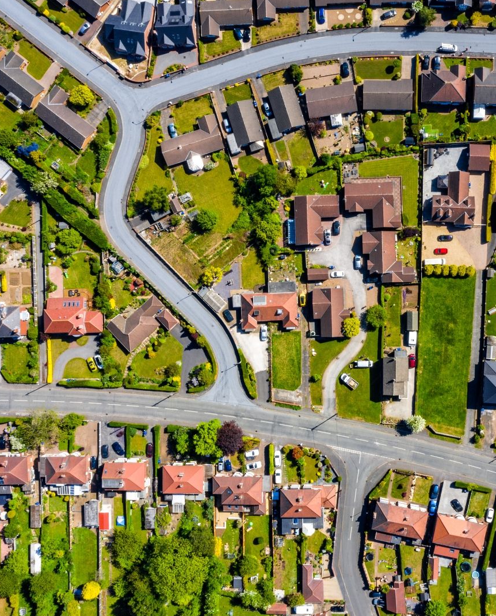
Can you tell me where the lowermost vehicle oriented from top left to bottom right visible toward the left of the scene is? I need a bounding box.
[112,440,125,455]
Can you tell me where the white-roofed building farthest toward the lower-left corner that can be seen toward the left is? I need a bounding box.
[30,540,45,573]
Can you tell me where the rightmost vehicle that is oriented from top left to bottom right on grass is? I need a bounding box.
[340,373,359,389]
